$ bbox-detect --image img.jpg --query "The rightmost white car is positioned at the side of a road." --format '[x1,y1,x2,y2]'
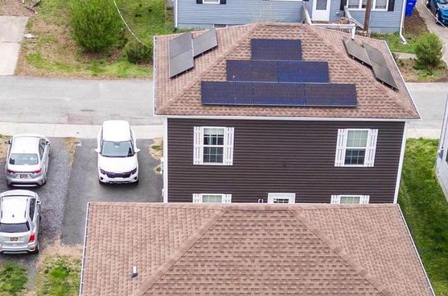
[97,113,144,177]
